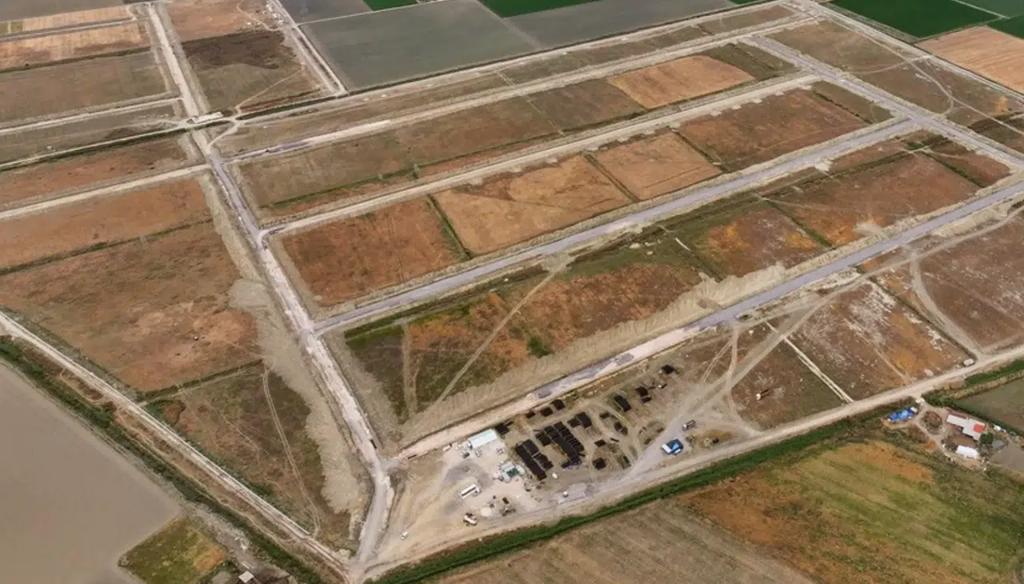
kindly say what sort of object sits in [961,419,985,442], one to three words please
house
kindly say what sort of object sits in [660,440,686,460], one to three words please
building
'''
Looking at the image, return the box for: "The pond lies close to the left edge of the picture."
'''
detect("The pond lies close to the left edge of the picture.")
[0,360,181,584]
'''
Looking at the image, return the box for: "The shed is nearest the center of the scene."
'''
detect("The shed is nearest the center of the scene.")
[468,429,498,451]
